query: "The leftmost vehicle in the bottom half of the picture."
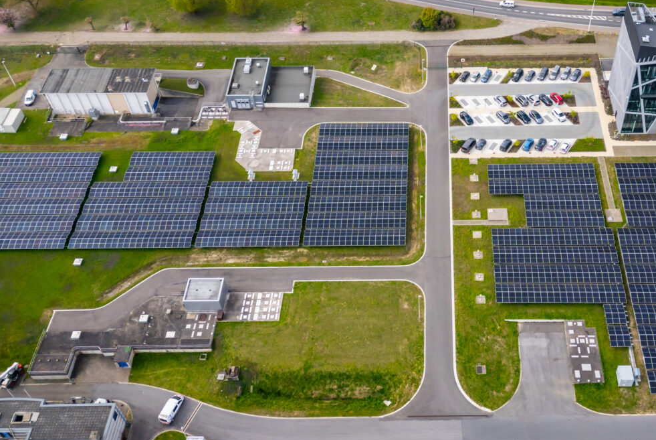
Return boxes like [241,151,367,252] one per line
[0,361,26,391]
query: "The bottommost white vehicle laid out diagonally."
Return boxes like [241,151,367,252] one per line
[156,394,186,424]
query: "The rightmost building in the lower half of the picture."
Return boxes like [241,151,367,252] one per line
[183,278,228,309]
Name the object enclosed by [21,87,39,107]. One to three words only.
vehicle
